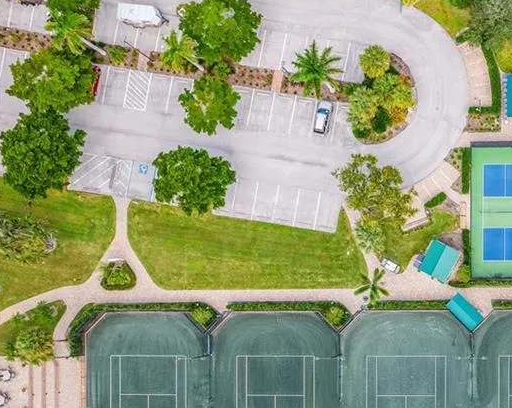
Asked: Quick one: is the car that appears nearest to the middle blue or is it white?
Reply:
white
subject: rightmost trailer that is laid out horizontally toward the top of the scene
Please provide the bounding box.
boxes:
[116,2,170,28]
